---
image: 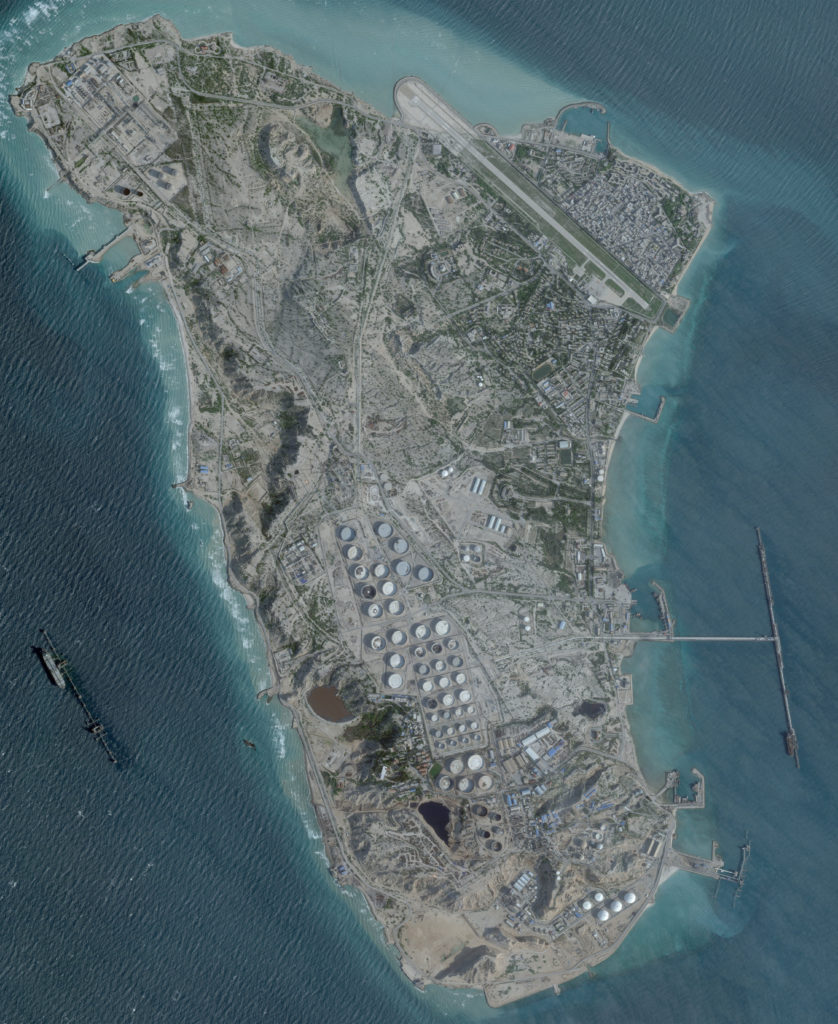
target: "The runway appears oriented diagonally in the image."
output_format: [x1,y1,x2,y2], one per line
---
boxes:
[418,103,649,308]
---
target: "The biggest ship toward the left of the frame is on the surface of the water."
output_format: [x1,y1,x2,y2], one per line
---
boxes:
[40,649,66,689]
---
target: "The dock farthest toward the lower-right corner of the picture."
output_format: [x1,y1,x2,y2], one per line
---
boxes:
[668,840,750,908]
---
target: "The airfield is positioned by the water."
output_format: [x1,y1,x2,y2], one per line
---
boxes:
[398,79,663,318]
